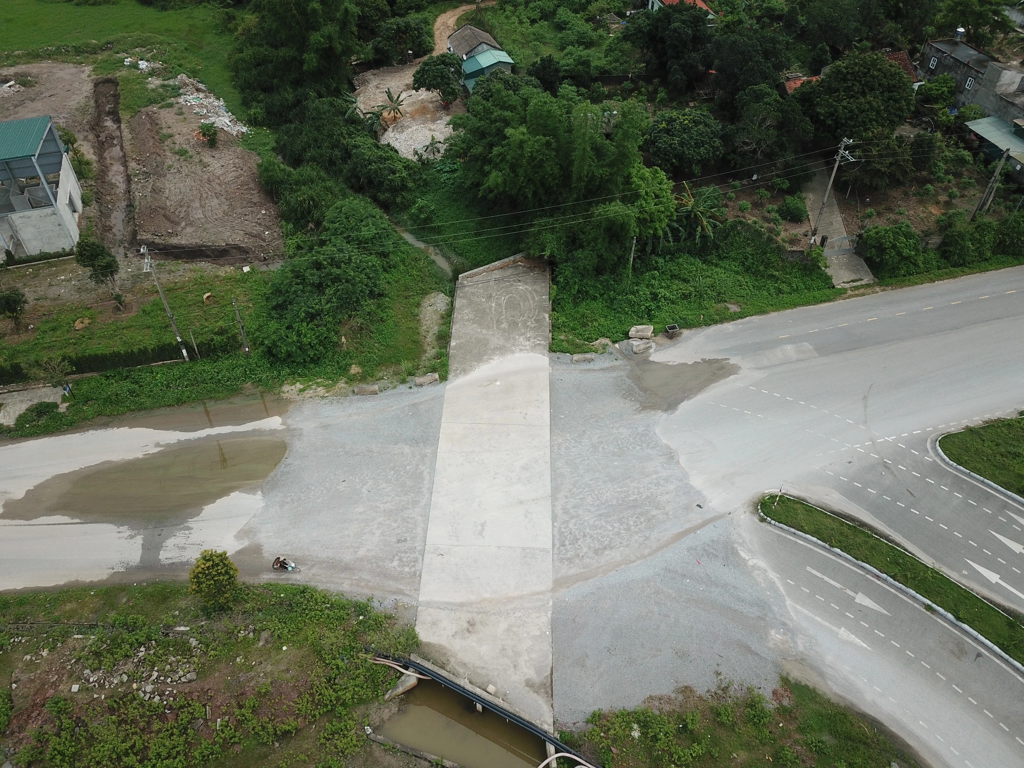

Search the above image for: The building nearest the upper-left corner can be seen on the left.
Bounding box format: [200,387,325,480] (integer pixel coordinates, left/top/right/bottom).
[0,115,85,266]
